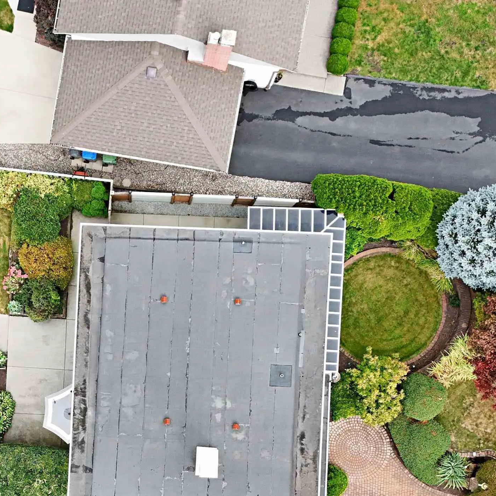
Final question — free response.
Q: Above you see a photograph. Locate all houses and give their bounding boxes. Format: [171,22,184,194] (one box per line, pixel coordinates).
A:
[66,223,333,496]
[46,0,311,178]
